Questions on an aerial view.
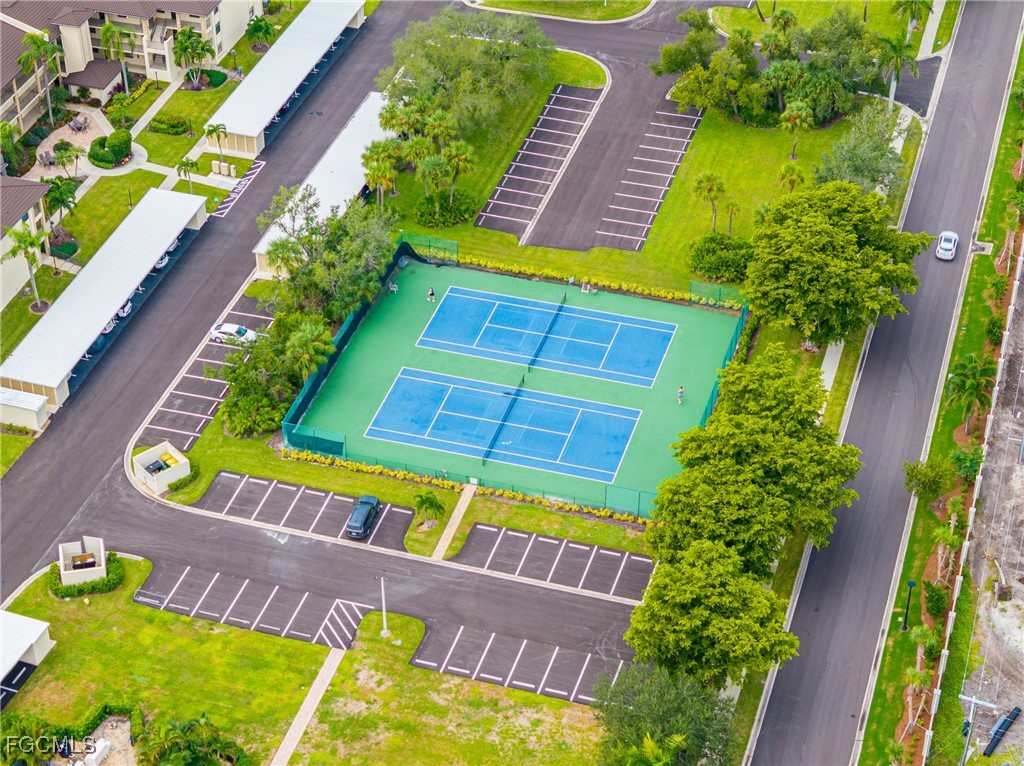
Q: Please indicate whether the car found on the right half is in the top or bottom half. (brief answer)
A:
top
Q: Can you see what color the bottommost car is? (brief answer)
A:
blue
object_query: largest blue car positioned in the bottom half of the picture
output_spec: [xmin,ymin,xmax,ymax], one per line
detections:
[345,495,383,536]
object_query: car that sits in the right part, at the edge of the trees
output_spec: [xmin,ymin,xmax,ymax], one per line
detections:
[934,231,958,259]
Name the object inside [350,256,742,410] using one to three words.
tennis court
